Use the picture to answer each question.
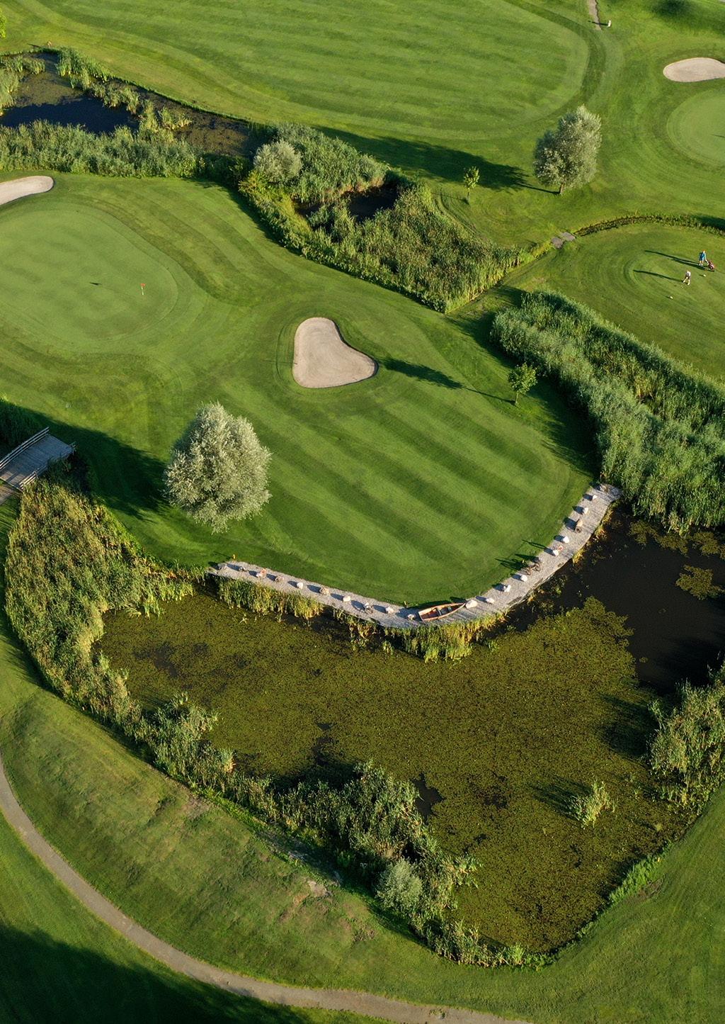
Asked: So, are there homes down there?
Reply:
No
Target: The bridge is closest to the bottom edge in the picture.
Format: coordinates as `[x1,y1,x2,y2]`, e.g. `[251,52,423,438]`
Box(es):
[0,424,73,492]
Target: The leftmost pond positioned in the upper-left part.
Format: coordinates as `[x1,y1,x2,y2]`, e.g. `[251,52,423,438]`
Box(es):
[0,52,265,162]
